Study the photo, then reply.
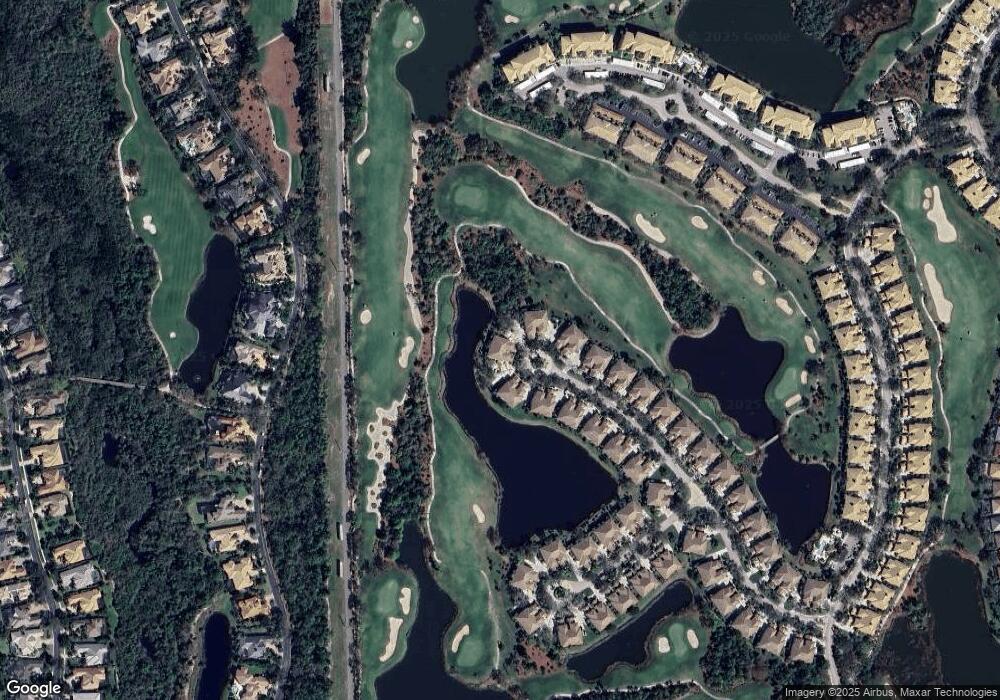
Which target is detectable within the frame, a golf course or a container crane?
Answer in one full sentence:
Looking from above, you can make out a golf course.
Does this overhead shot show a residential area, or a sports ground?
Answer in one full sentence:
The area seen from above is a residential area.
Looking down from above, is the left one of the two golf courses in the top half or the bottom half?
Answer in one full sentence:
The left one of the two golf courses sits in the top half of the picture.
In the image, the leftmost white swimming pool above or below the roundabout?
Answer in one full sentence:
Relative to the roundabout, the leftmost white swimming pool lies above it.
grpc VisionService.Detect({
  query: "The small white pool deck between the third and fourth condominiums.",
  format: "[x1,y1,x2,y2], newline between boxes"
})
[679,51,710,78]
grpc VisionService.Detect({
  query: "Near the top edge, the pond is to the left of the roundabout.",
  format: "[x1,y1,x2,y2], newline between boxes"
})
[396,0,481,122]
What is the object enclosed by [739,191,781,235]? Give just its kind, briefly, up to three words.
building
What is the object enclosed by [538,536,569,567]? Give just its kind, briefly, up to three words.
house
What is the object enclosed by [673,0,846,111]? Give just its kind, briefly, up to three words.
pond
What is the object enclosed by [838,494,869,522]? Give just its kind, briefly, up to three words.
house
